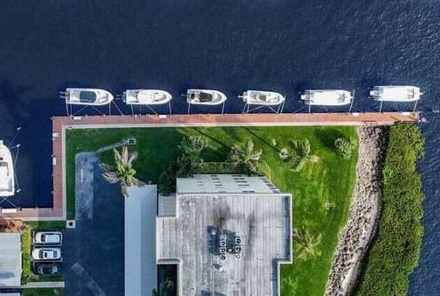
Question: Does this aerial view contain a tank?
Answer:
No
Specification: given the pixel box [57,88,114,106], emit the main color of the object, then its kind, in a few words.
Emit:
white boat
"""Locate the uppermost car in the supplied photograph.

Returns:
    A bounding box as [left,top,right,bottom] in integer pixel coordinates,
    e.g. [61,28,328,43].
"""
[34,232,62,246]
